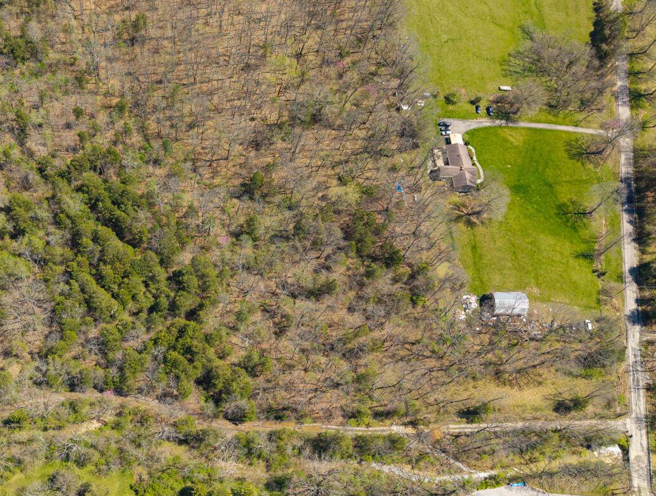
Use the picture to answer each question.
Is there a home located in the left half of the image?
No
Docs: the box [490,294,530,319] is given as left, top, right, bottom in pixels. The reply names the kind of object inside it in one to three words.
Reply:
barn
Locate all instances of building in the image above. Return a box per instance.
[439,133,479,191]
[490,294,530,319]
